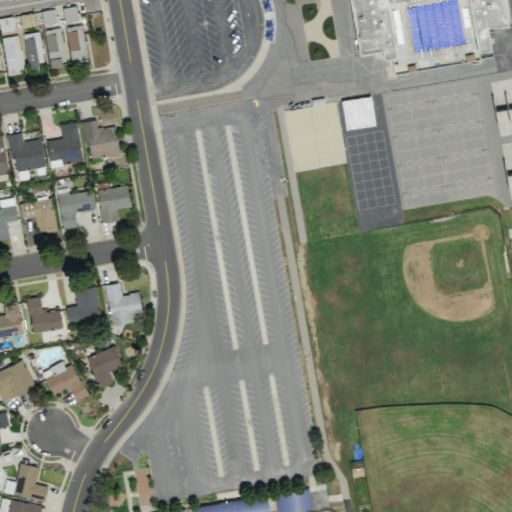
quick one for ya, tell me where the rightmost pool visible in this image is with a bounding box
[36,346,64,368]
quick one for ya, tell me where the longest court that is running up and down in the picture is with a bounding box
[338,93,404,230]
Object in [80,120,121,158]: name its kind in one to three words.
house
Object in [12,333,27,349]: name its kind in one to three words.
swimming pool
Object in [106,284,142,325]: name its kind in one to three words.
house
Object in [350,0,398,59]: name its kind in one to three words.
building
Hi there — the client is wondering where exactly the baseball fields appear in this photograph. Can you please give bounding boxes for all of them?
[388,208,511,350]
